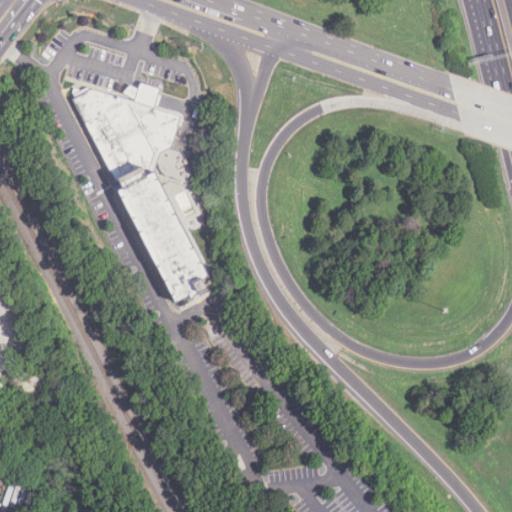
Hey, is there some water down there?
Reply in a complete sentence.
No, no water is visible.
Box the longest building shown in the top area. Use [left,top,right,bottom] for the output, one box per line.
[72,82,208,302]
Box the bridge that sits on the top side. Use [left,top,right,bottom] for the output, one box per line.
[449,72,512,150]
